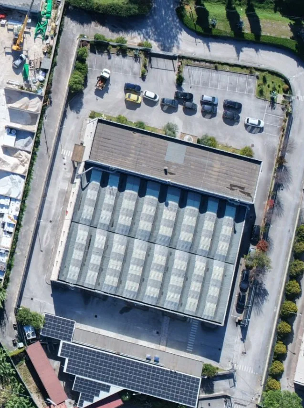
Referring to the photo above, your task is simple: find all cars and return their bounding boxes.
[199,104,218,114]
[198,94,219,105]
[141,90,160,103]
[181,100,198,110]
[221,99,243,111]
[158,97,178,109]
[239,268,249,290]
[249,223,262,244]
[244,118,264,128]
[124,93,142,104]
[122,82,143,94]
[221,110,239,122]
[235,291,246,311]
[173,90,193,101]
[11,55,25,69]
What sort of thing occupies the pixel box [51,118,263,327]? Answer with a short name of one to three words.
building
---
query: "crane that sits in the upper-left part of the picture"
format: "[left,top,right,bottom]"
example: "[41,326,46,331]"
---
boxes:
[6,0,32,56]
